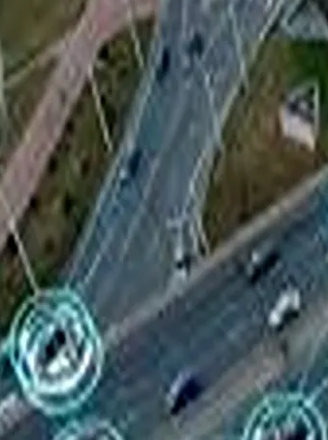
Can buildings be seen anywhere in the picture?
No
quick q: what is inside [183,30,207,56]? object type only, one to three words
car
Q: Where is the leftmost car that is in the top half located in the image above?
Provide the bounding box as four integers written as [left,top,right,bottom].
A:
[124,149,146,178]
